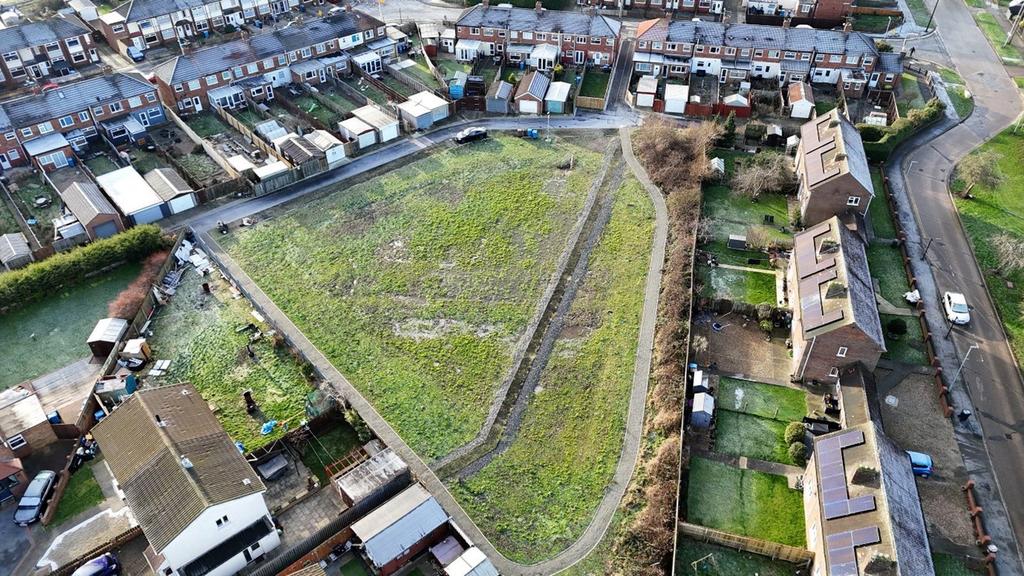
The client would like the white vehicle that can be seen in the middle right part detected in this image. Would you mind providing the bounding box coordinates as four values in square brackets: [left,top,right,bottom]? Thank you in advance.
[943,290,974,323]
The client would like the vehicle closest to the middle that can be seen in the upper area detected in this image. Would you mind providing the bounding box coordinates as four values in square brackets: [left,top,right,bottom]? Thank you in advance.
[455,126,489,143]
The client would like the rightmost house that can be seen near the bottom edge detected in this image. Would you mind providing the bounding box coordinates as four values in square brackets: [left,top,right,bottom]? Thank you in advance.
[796,419,951,576]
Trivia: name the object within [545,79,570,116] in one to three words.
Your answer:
building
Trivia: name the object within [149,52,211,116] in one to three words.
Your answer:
house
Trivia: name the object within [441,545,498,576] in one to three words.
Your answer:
shed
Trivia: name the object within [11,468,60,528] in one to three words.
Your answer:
car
